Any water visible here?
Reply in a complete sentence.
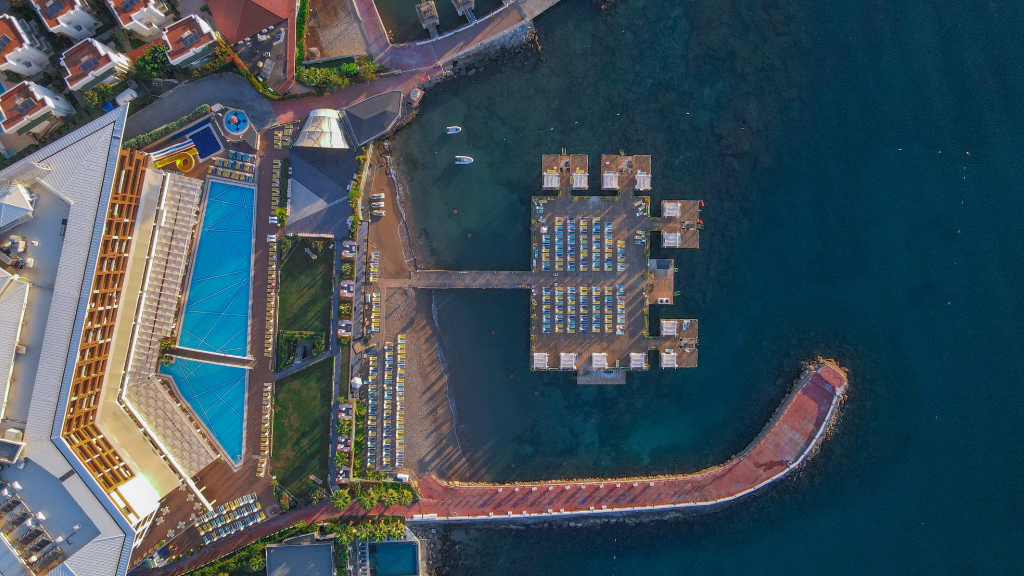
Yes, water can be seen from above here.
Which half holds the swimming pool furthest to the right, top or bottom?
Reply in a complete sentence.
The swimming pool furthest to the right is in the bottom half of the image.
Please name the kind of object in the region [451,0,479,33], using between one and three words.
pier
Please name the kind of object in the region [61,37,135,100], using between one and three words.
house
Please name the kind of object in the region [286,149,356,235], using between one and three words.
building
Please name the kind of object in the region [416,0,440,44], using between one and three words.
pier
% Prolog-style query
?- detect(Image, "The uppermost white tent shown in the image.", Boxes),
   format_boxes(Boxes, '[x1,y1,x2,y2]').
[289,104,356,151]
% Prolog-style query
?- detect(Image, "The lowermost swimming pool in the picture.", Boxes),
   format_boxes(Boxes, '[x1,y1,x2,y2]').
[374,541,419,576]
